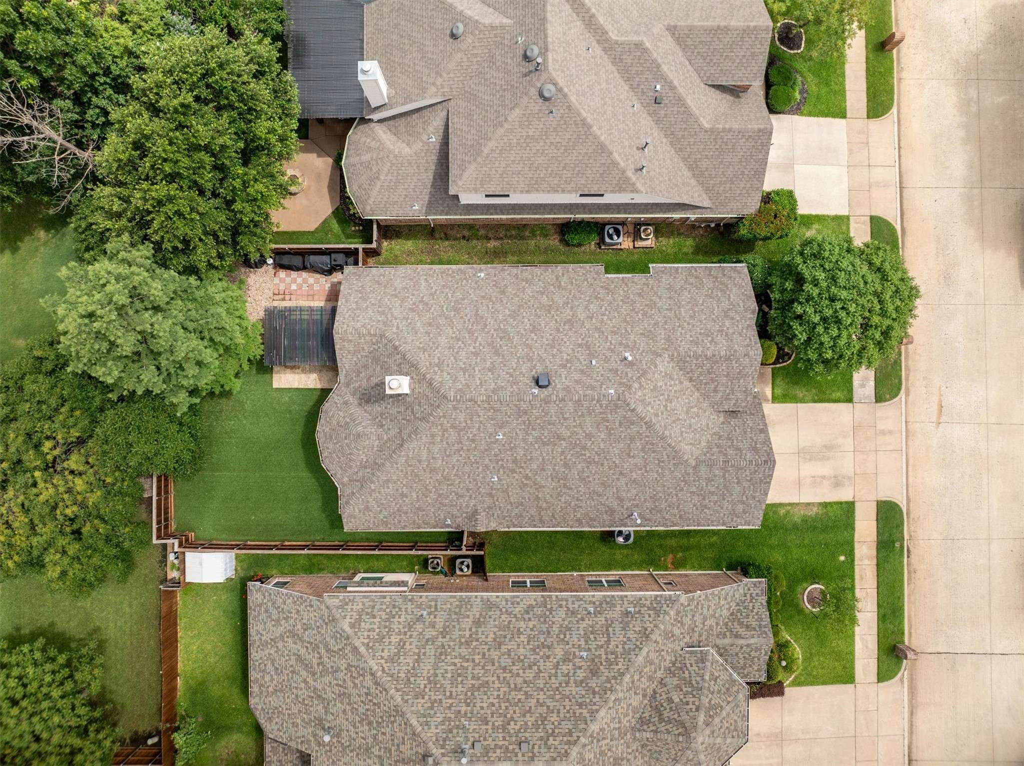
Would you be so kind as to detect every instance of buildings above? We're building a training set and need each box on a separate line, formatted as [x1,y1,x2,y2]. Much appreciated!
[342,0,773,231]
[247,564,773,766]
[185,553,238,584]
[315,264,776,533]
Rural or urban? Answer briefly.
urban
